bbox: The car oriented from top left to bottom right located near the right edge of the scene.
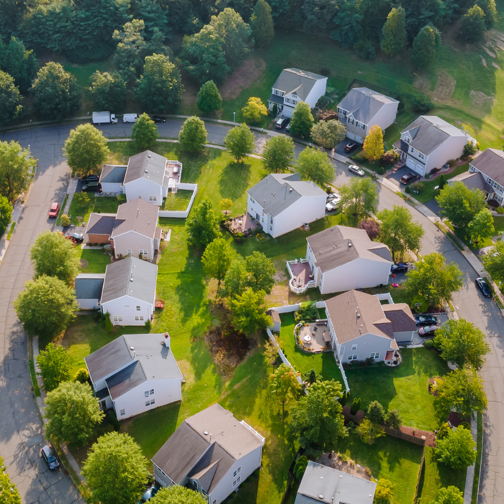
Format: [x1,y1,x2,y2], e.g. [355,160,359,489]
[473,278,493,297]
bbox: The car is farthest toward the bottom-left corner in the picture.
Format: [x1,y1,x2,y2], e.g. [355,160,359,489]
[41,445,60,470]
